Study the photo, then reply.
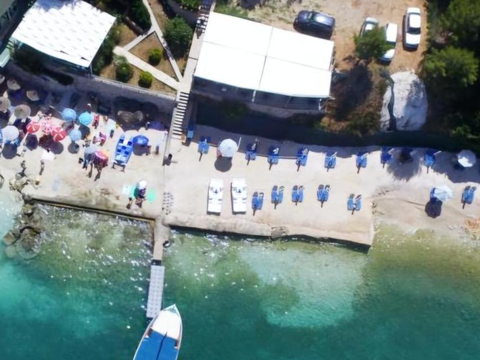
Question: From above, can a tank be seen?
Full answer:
No, there isn't any tank down there.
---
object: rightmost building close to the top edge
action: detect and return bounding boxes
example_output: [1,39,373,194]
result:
[193,10,335,114]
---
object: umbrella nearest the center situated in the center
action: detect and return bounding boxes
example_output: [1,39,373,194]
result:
[218,139,236,158]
